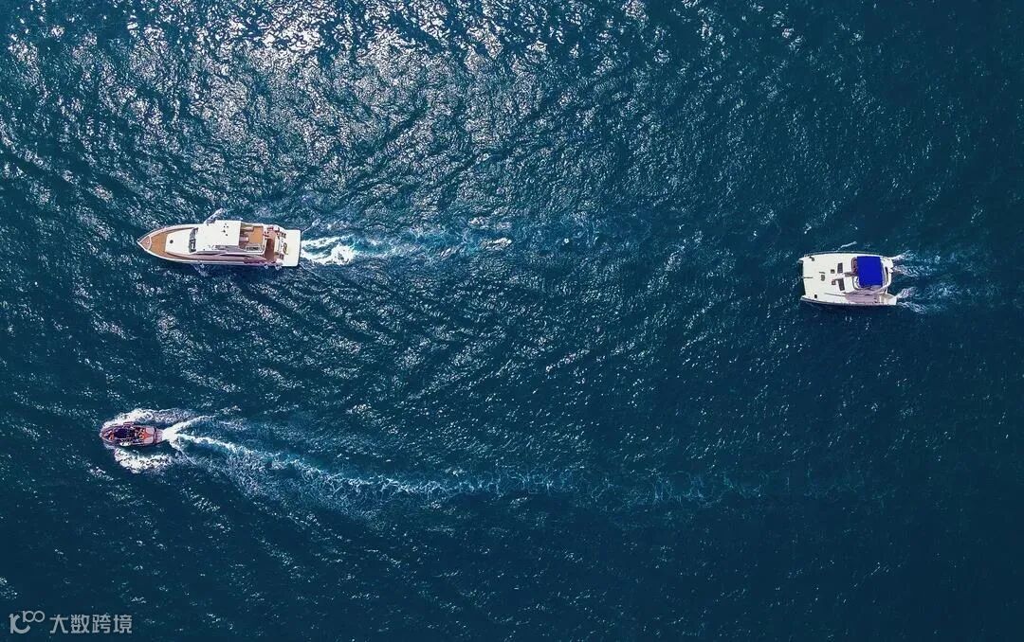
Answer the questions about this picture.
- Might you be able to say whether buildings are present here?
No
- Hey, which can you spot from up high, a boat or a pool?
boat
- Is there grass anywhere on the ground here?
No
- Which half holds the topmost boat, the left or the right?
left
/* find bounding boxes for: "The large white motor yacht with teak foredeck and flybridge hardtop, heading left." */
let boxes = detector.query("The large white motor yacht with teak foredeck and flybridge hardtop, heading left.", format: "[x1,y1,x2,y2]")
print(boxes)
[135,220,302,267]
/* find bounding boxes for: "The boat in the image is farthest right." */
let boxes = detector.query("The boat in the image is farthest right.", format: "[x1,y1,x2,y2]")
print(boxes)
[793,251,896,310]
